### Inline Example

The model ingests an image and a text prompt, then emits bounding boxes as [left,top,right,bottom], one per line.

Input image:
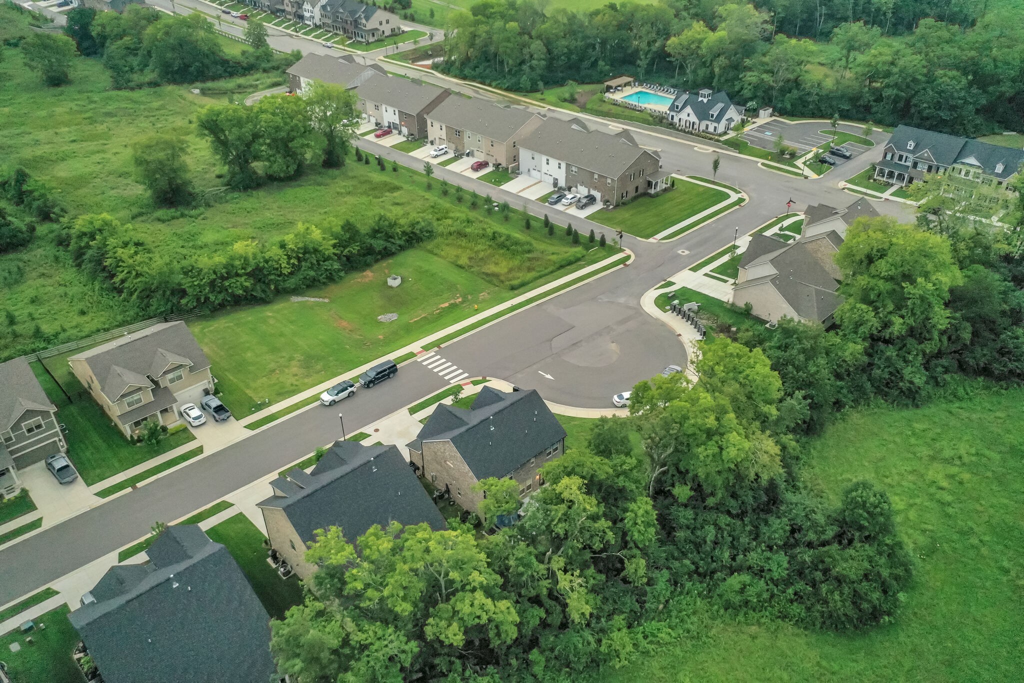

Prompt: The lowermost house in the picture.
[64,522,284,683]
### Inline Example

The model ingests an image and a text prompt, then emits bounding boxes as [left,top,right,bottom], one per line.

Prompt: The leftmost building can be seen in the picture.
[0,349,66,496]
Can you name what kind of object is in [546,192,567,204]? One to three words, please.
vehicle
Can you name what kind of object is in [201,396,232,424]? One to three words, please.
truck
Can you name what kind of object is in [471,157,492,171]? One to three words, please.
car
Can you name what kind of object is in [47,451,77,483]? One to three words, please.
truck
